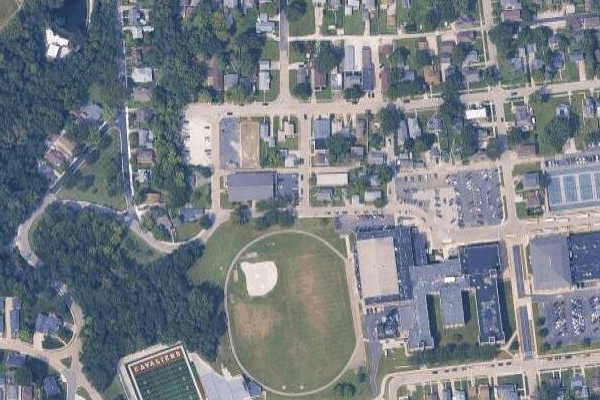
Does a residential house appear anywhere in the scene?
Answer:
Yes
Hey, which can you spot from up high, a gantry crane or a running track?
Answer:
running track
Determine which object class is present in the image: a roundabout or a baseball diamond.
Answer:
baseball diamond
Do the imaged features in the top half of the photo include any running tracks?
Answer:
No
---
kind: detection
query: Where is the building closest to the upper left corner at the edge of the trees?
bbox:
[45,27,70,59]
